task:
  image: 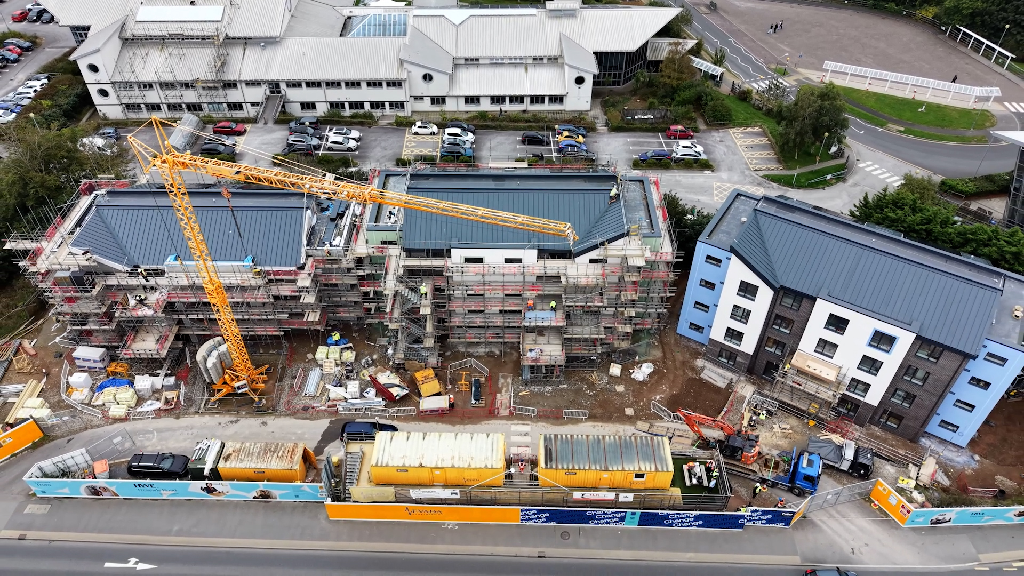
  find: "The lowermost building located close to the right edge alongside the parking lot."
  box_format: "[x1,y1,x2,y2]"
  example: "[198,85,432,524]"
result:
[677,187,1024,447]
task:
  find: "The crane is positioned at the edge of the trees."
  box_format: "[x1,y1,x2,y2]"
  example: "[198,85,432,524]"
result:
[125,113,587,408]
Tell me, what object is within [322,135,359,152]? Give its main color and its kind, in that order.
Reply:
white car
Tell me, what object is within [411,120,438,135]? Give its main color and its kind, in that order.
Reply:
white car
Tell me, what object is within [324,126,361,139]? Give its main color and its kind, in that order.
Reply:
white vehicle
